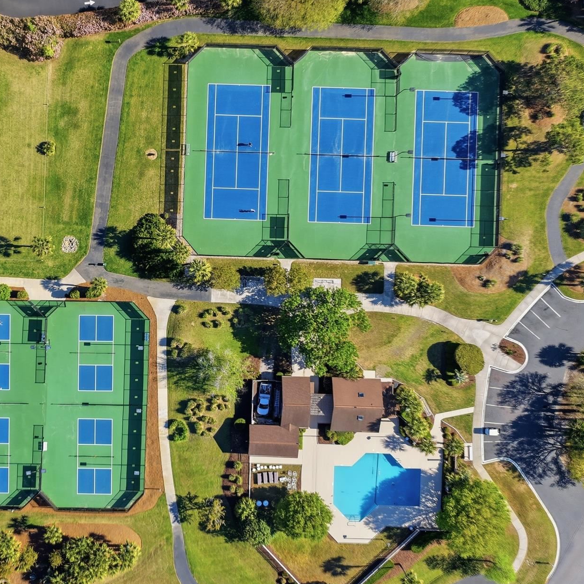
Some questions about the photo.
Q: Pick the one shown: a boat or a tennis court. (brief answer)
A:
tennis court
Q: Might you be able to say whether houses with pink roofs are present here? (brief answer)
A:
No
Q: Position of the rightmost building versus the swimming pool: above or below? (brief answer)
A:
above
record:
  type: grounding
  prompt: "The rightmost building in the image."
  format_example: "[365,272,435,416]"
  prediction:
[330,377,383,432]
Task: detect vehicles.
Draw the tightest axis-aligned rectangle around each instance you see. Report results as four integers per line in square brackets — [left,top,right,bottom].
[482,426,500,437]
[257,382,272,416]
